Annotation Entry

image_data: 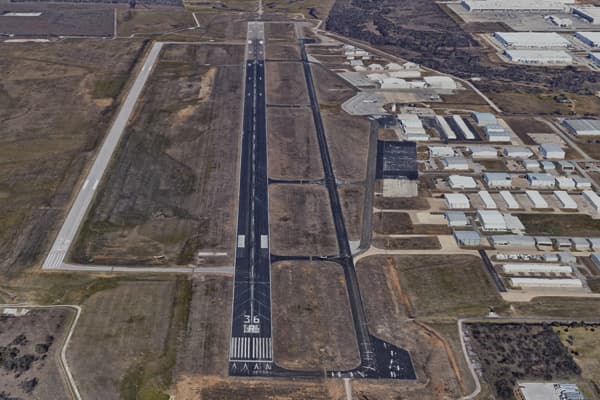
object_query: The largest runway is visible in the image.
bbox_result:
[228,31,273,377]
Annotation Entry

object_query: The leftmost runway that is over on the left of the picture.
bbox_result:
[42,42,163,269]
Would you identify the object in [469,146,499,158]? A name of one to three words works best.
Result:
building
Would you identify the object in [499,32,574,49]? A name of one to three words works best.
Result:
building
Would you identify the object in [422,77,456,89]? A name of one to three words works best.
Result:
hangar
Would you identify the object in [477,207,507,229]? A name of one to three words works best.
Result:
hangar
